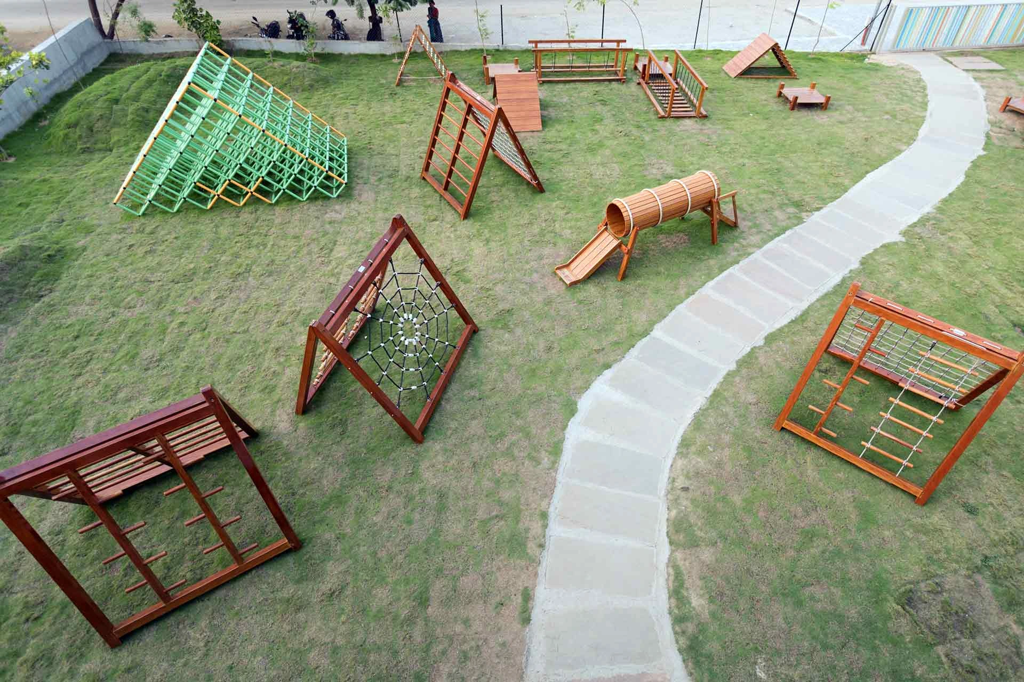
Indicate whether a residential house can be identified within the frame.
No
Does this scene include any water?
No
